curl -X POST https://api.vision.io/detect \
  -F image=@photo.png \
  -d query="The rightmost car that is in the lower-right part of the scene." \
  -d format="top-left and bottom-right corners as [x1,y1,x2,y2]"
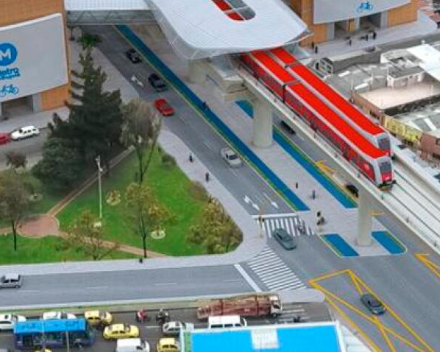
[359,290,387,317]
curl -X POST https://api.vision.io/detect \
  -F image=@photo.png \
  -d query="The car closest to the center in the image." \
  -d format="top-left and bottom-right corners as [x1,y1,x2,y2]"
[221,148,242,168]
